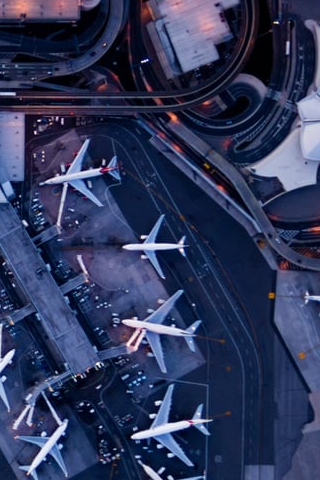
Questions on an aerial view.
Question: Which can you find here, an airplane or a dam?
airplane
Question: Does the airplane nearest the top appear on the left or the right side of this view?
left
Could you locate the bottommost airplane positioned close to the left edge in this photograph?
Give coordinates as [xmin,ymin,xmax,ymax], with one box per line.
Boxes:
[13,420,68,480]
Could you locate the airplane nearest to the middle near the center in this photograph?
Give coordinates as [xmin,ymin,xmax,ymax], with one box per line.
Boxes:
[122,213,189,279]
